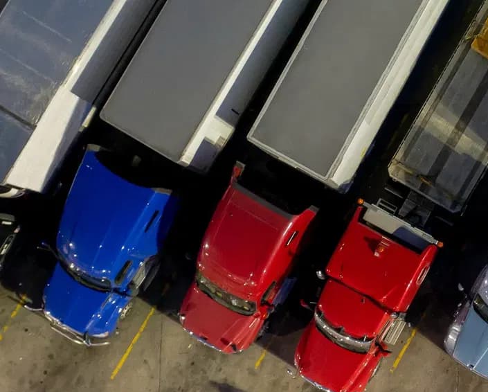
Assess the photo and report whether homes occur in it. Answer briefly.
No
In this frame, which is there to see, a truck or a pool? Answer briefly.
truck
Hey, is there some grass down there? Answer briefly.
No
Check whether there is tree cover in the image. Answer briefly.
No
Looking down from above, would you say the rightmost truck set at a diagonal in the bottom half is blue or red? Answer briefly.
red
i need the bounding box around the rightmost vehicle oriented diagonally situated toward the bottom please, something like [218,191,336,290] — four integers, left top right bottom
[289,171,488,392]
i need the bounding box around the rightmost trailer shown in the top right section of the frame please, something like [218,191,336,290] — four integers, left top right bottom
[387,0,488,209]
